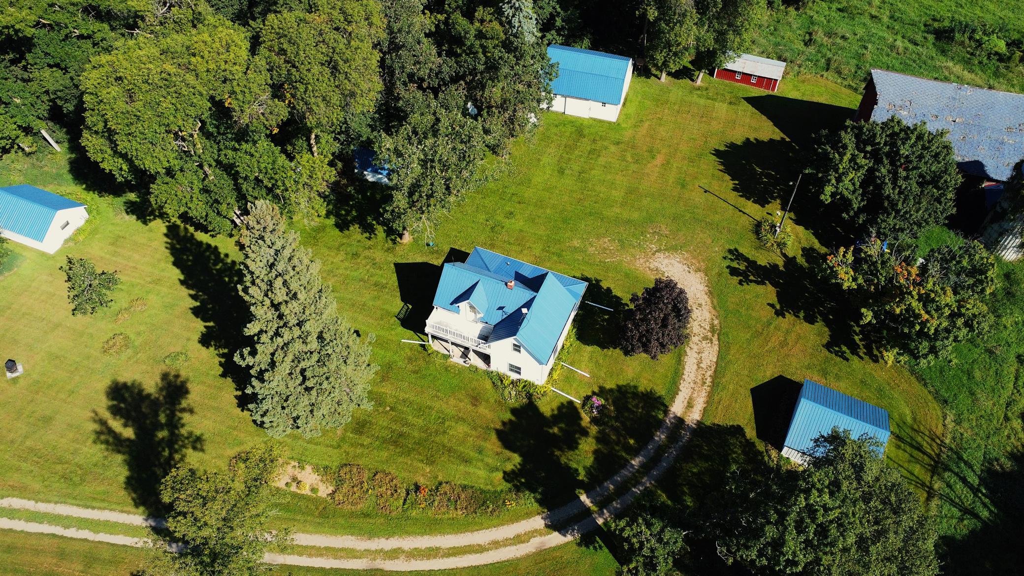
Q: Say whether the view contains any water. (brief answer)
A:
No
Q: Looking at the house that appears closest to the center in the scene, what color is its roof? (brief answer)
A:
blue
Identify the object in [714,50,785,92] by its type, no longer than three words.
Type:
shed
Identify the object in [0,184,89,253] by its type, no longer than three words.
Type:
building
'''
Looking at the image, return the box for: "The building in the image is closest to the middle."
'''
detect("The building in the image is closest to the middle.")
[423,246,590,384]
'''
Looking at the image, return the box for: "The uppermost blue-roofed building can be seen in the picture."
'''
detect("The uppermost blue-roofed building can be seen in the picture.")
[538,44,632,123]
